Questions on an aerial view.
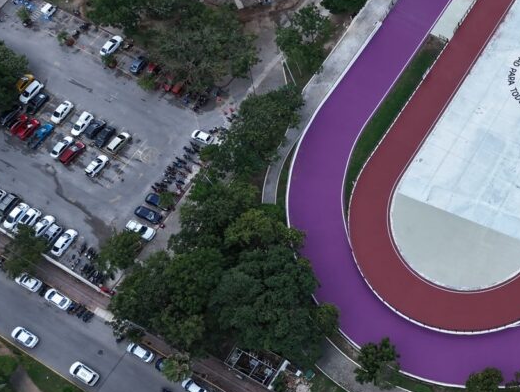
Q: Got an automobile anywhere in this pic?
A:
Yes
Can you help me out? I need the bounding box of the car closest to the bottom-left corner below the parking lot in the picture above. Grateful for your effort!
[9,325,40,349]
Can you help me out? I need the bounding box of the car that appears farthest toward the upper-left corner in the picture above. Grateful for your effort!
[35,0,60,19]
